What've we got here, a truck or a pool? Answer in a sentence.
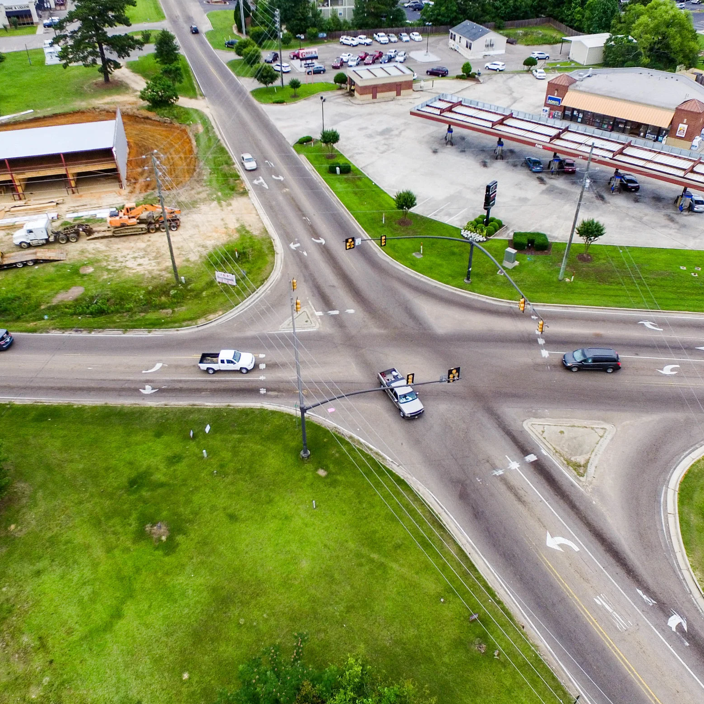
The image shows a truck.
